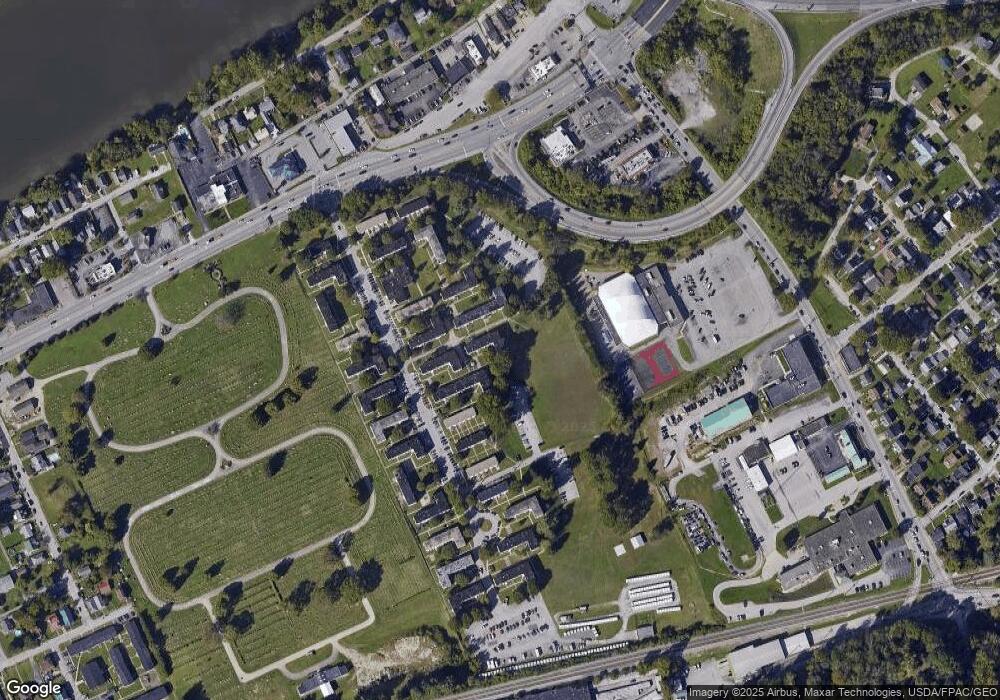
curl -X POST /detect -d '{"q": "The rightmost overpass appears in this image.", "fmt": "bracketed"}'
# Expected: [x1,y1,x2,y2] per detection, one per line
[715,174,750,208]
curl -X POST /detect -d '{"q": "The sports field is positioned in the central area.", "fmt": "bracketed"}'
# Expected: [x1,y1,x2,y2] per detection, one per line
[531,308,612,443]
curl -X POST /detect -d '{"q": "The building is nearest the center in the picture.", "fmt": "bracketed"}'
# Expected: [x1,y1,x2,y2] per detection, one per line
[464,327,511,355]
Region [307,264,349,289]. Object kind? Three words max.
building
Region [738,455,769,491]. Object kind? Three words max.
shed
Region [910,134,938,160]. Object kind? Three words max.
house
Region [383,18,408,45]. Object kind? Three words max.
house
